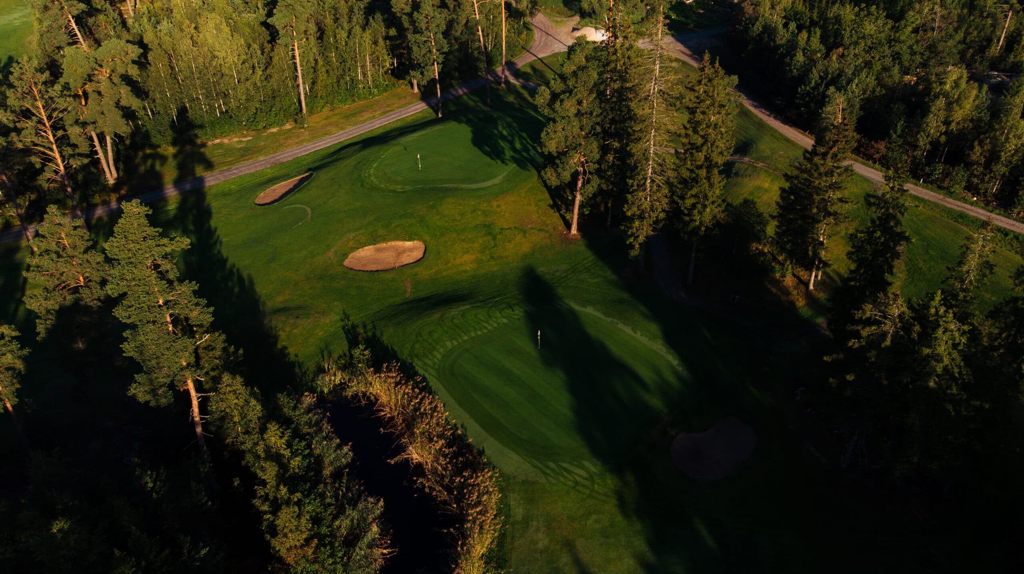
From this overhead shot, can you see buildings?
No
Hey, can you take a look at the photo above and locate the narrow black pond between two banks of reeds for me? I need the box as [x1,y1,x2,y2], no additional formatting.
[318,391,462,574]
